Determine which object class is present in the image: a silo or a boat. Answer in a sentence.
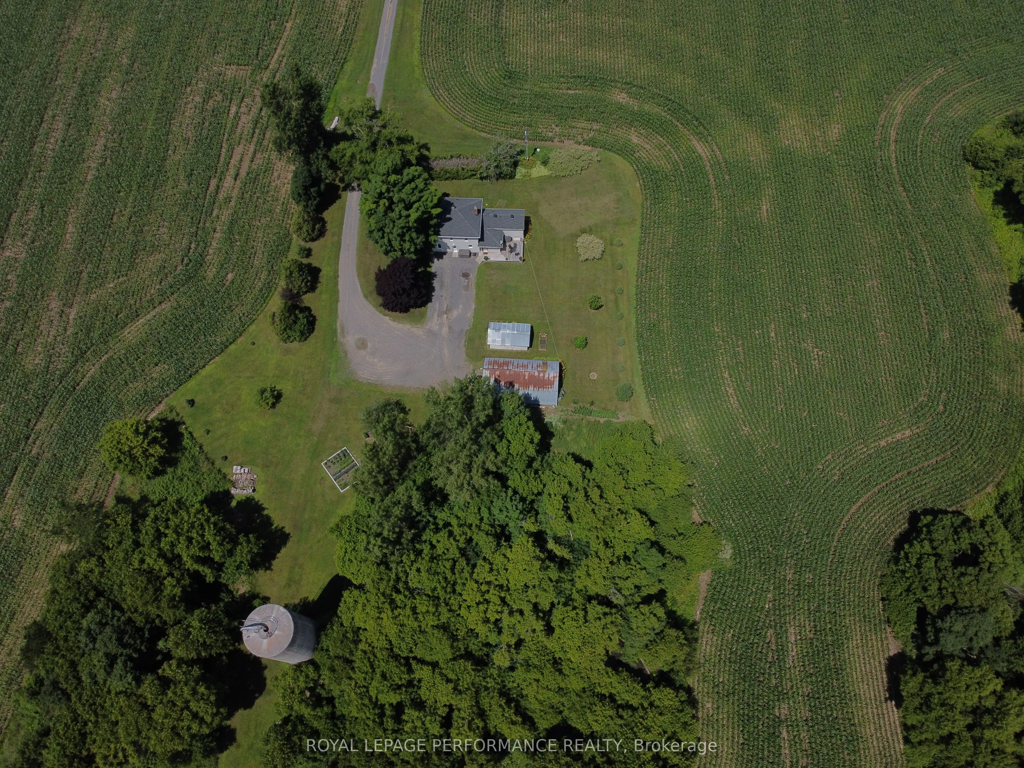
Looking from above, you can make out a silo.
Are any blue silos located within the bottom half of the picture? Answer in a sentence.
No, no blue silo appears within the bottom half of the picture.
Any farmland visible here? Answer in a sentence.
Yes, there's farmland in this view.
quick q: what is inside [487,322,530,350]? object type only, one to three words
shed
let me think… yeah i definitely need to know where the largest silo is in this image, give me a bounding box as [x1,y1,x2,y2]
[239,604,320,666]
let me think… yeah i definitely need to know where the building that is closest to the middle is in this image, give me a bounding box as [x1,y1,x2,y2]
[478,358,559,409]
